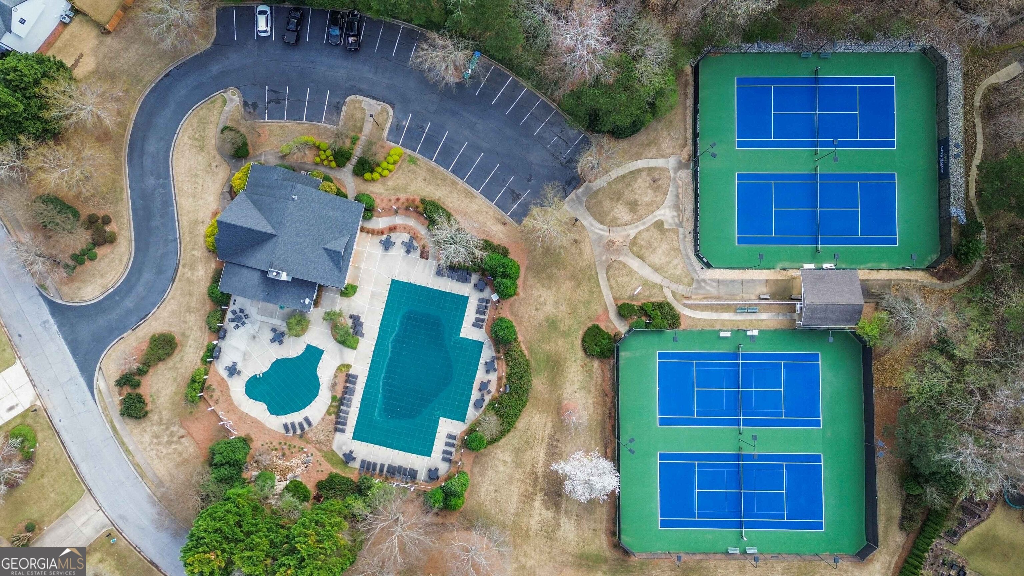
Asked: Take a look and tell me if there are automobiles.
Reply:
Yes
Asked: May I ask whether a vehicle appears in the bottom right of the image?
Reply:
No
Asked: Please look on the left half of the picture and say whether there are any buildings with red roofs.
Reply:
No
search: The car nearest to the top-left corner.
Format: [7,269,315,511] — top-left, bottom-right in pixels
[255,5,273,37]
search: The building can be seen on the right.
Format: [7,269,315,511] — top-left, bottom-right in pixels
[795,268,864,329]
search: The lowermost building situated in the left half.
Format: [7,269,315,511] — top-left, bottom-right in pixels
[215,162,366,313]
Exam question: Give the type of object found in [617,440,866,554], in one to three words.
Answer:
tennis court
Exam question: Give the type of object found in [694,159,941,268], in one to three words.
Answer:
tennis court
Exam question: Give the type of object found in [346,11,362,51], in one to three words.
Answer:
vehicle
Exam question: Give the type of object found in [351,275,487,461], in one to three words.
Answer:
swimming pool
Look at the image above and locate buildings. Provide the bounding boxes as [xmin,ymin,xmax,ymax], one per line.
[215,162,366,313]
[0,0,82,56]
[795,268,864,329]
